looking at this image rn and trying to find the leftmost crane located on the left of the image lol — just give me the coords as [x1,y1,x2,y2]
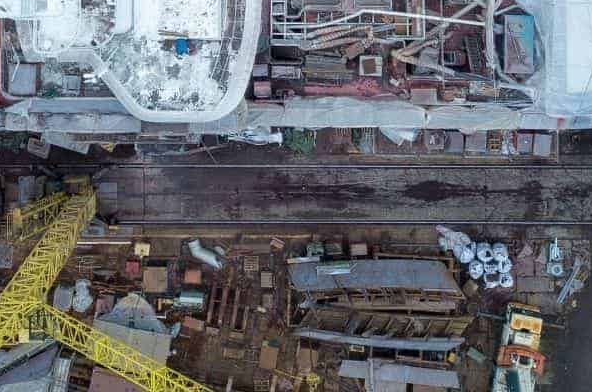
[0,166,235,392]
